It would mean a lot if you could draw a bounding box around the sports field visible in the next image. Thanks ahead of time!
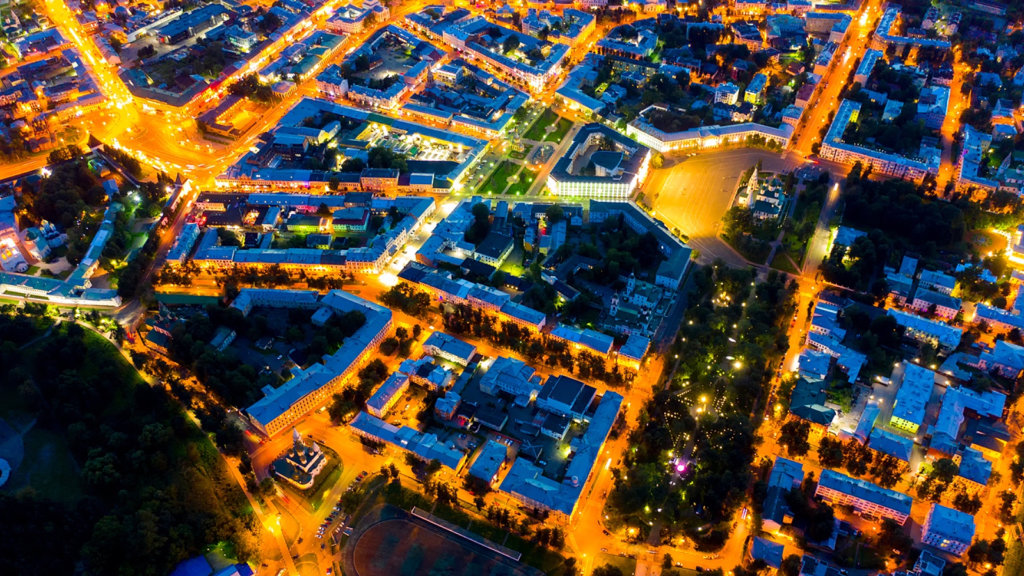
[353,519,521,576]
